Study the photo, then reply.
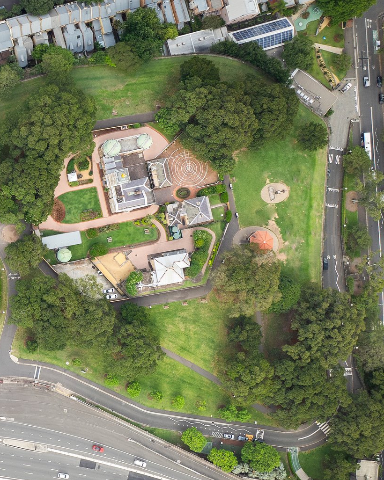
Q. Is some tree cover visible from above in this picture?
Yes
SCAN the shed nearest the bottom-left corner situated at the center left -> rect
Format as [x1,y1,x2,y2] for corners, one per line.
[42,231,81,250]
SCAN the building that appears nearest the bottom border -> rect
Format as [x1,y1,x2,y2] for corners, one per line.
[150,249,191,287]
